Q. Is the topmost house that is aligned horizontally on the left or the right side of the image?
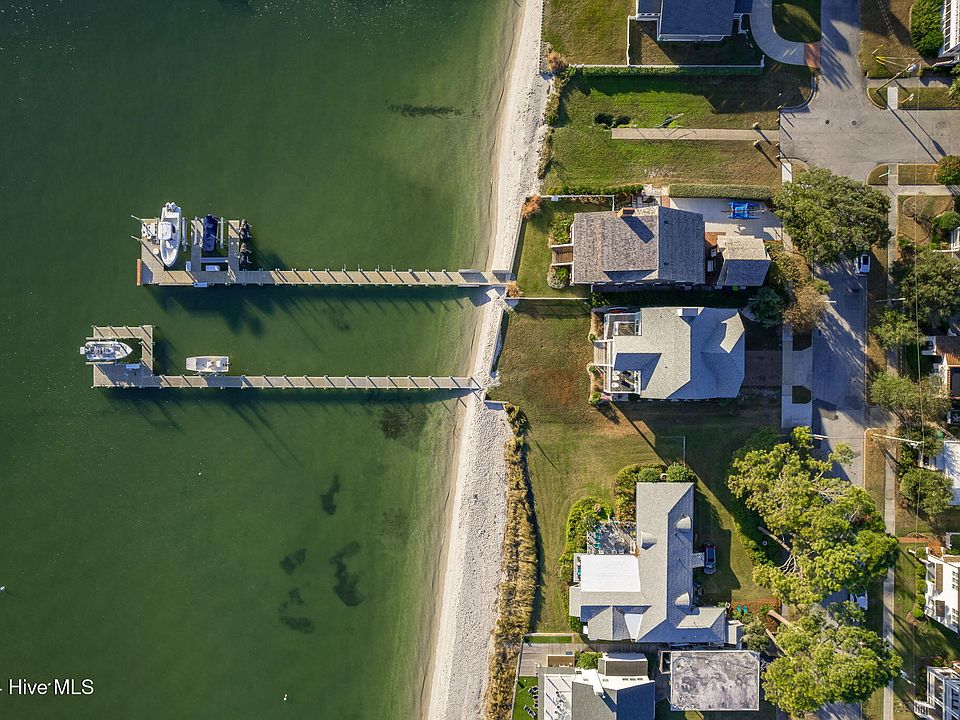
right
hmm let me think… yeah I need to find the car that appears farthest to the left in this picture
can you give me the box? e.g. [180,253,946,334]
[700,541,717,574]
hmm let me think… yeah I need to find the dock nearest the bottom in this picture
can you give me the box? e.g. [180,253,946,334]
[90,325,479,390]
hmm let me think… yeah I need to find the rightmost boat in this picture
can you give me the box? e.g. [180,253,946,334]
[724,202,768,218]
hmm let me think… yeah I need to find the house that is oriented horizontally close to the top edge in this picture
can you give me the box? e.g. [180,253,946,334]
[636,0,753,50]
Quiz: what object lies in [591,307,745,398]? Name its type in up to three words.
house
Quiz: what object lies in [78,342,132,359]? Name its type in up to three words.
boat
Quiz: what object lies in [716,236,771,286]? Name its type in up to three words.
building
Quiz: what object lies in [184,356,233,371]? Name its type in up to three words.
boat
